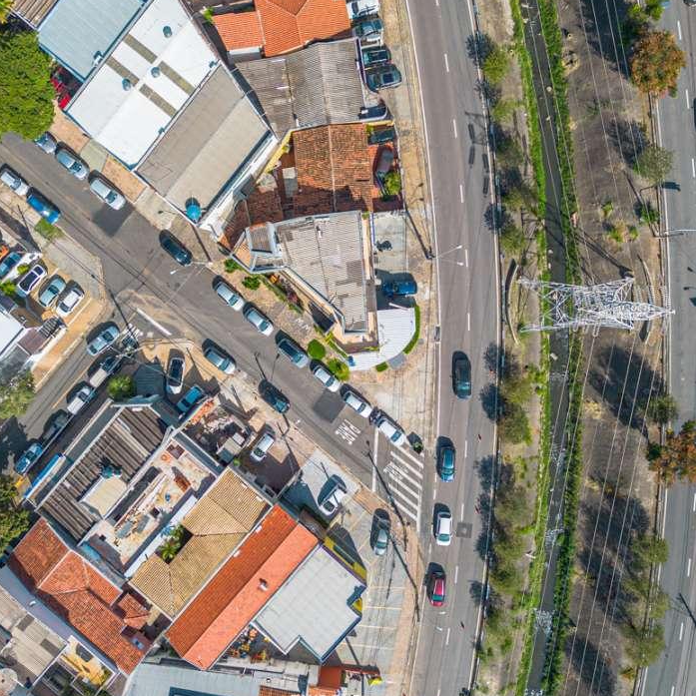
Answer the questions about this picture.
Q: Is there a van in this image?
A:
Yes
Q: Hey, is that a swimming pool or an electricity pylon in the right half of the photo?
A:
electricity pylon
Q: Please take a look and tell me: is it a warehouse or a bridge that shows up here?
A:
warehouse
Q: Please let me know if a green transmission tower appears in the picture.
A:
No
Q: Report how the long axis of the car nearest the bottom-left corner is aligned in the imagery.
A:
on a diagonal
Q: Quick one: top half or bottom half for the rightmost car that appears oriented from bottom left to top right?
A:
bottom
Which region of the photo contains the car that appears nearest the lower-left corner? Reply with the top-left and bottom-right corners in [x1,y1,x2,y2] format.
[13,442,43,474]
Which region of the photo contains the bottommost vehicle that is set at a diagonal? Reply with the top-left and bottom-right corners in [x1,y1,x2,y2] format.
[318,477,347,514]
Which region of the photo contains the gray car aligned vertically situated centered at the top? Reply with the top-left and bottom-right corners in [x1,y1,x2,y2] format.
[378,142,396,178]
